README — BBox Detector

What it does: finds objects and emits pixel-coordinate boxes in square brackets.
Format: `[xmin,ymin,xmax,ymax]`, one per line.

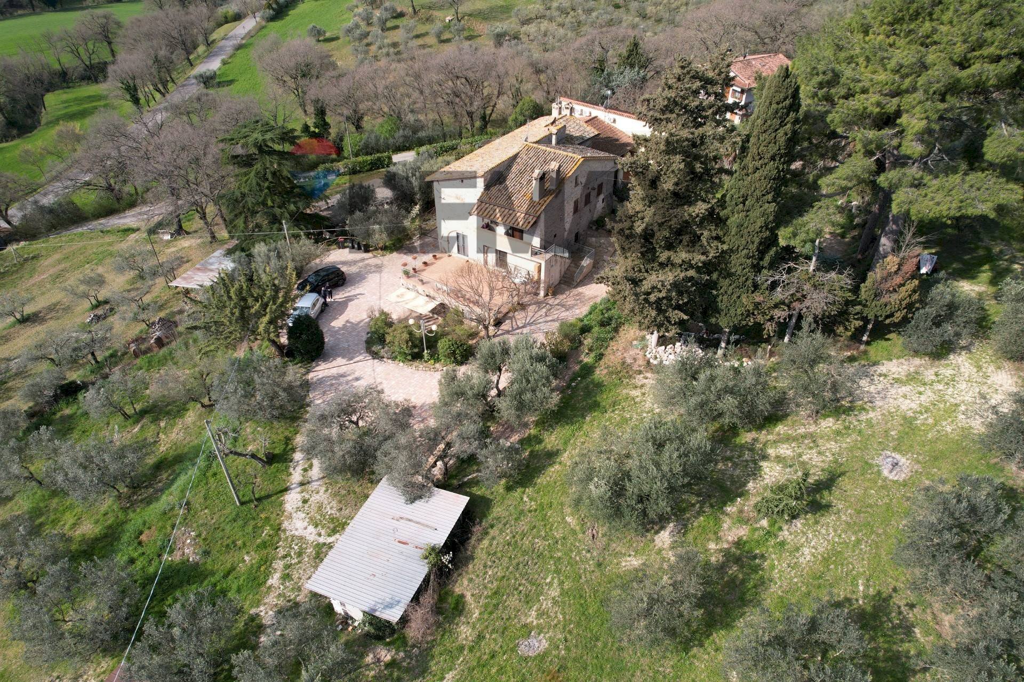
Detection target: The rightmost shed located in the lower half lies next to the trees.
[307,480,470,623]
